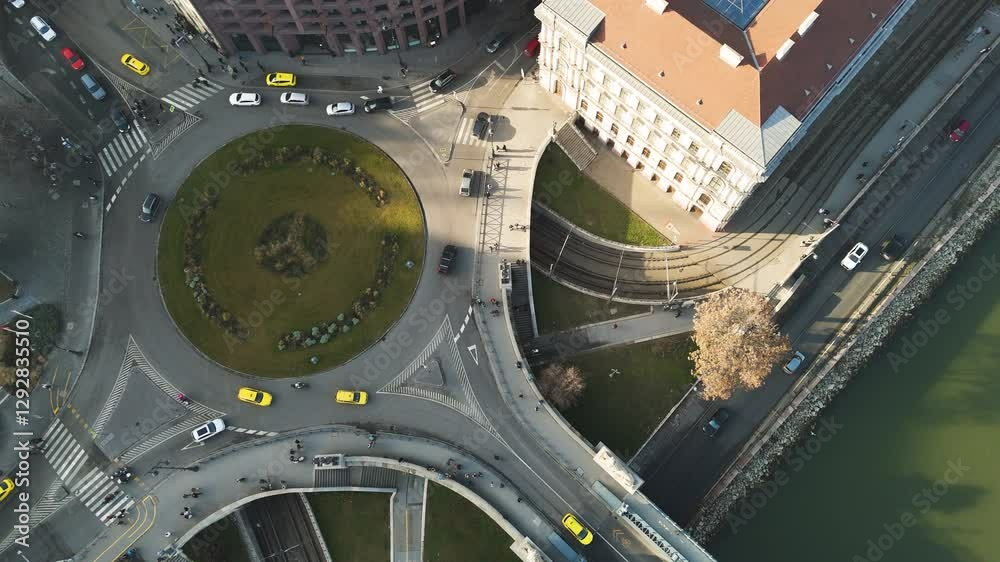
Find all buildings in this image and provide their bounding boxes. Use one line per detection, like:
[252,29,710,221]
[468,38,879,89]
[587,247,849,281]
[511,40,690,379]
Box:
[172,0,476,59]
[536,0,915,231]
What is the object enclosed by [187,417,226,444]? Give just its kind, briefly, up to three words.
car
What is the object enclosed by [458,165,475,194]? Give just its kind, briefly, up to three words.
car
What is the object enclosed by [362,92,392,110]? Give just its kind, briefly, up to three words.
vehicle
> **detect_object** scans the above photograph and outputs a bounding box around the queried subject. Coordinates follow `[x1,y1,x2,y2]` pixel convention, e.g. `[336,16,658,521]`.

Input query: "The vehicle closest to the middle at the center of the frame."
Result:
[437,242,455,273]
